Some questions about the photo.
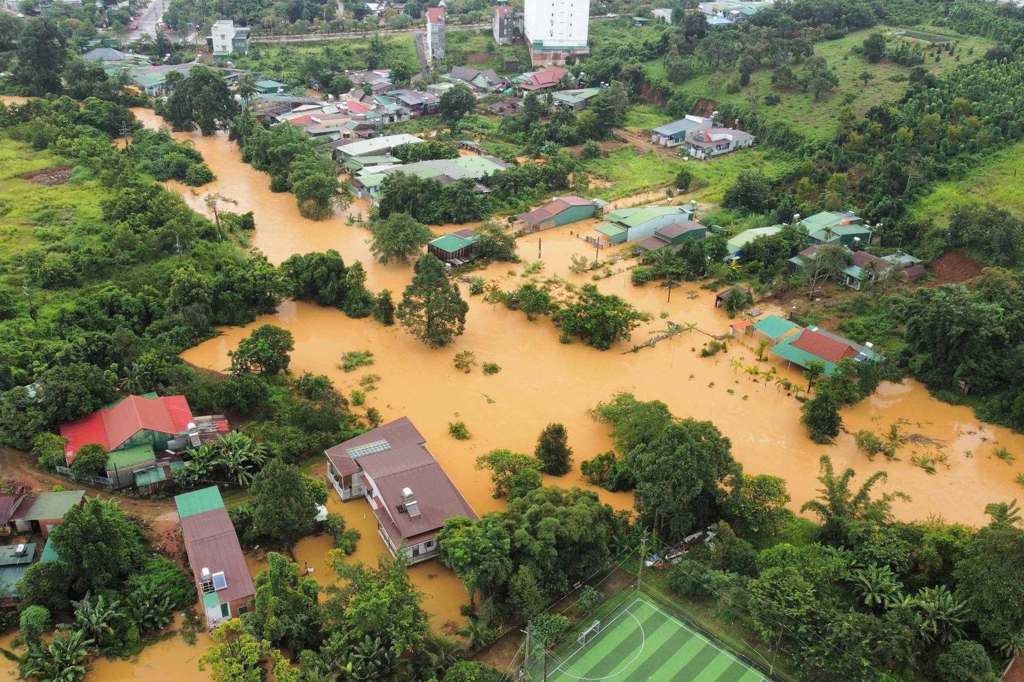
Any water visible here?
Yes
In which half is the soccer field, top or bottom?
bottom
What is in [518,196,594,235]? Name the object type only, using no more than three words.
barn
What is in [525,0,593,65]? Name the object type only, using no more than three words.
building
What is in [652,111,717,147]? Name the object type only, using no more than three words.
house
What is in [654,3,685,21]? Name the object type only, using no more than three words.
house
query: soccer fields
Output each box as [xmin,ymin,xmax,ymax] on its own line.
[524,586,788,682]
